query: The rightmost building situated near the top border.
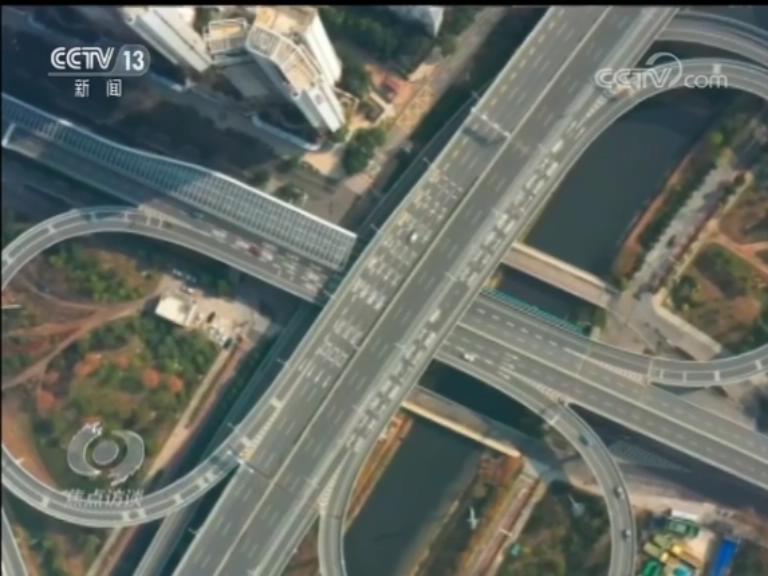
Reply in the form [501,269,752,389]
[398,0,446,35]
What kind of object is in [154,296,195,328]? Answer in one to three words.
shed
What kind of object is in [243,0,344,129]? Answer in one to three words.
building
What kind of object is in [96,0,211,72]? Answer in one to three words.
building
